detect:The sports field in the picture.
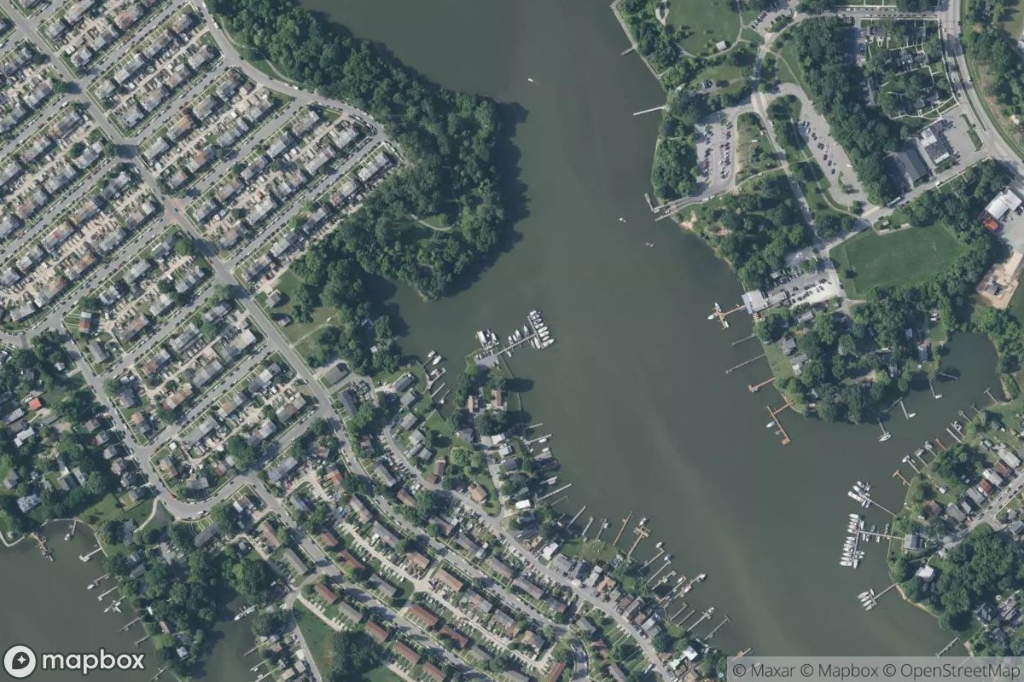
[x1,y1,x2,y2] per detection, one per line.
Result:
[832,222,969,299]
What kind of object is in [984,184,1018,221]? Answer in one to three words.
building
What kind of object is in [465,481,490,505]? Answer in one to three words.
house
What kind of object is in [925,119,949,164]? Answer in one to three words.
building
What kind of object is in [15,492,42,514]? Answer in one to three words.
house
